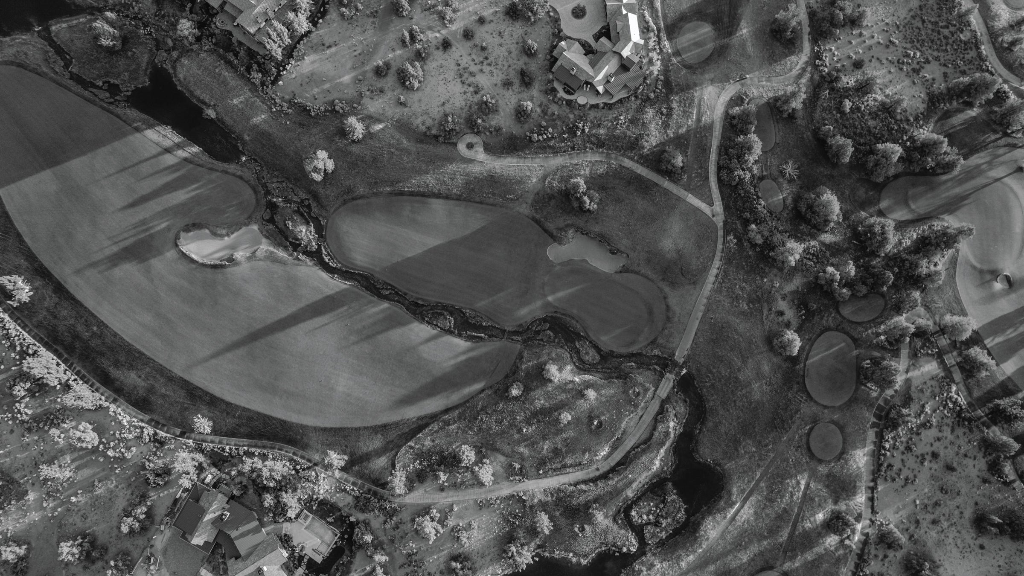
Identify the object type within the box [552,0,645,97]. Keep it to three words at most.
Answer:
house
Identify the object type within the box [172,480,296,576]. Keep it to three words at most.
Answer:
house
